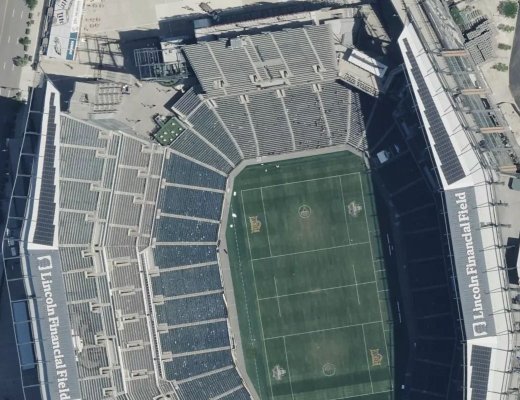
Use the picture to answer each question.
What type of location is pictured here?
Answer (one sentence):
What you see here is a sports ground.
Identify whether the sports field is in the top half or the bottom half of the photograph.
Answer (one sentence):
The bottom half of the photo is where the sports field is.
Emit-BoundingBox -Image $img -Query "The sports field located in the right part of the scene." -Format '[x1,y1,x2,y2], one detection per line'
[219,144,420,400]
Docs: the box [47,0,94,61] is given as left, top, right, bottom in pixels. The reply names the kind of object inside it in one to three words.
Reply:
building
